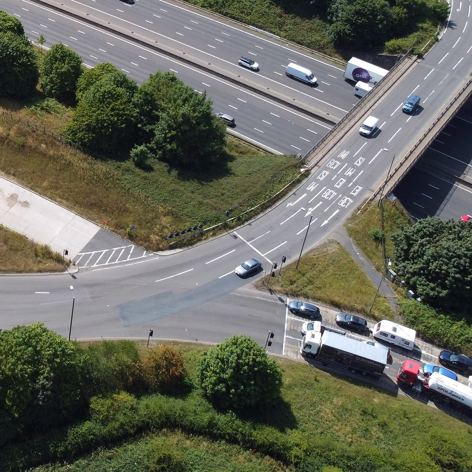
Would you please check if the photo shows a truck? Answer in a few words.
Yes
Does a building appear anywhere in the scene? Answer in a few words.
No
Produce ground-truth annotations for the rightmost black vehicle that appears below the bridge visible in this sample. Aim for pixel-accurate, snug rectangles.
[441,352,472,372]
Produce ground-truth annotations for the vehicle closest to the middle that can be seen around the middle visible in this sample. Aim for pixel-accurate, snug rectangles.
[235,258,262,275]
